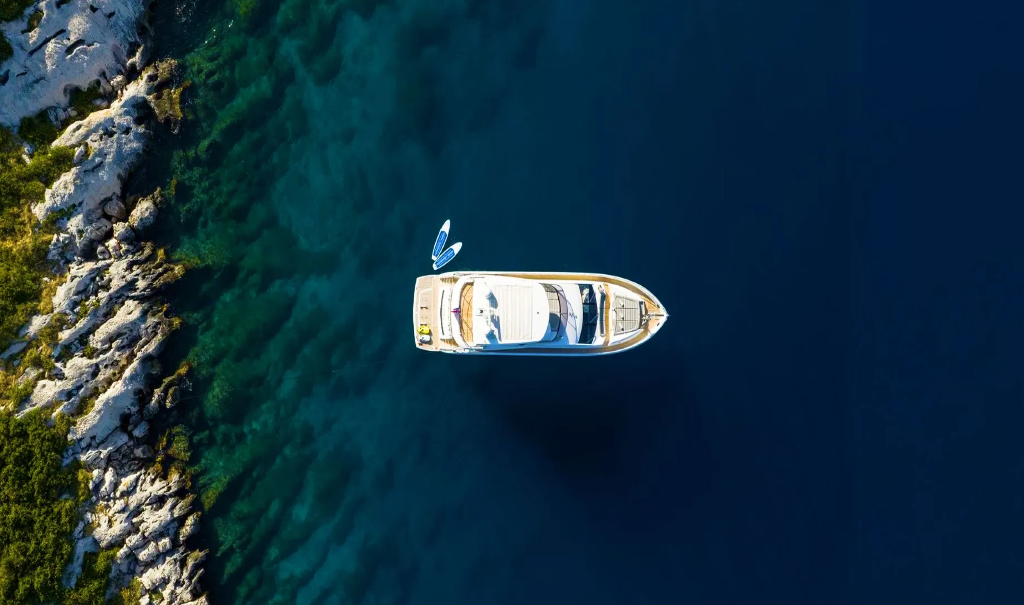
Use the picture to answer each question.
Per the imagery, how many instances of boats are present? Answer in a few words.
one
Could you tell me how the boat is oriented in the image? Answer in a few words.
from left to right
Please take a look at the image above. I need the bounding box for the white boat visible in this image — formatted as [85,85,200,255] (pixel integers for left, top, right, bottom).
[413,271,671,357]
